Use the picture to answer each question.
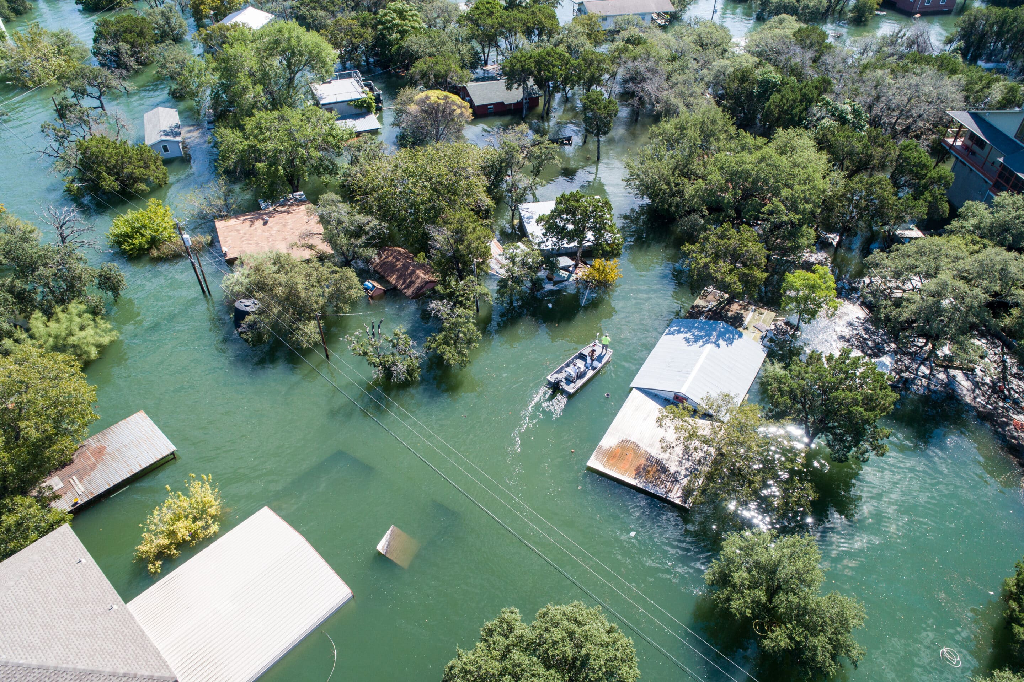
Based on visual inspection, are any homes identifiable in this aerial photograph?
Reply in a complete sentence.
Yes, there's a home here.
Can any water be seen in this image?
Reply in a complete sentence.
Yes, the picture does contain water.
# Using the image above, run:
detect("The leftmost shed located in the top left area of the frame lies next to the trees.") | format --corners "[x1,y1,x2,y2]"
[146,112,187,161]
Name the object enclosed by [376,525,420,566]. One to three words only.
shed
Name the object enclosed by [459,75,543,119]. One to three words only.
house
